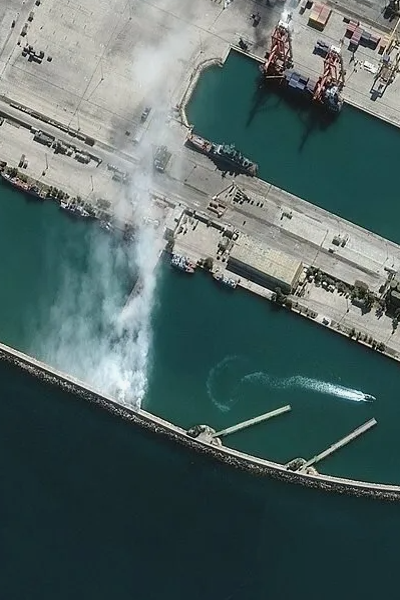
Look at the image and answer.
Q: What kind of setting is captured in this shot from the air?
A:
port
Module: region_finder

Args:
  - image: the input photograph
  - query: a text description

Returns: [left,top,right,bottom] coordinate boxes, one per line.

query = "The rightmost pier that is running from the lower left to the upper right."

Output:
[299,420,378,469]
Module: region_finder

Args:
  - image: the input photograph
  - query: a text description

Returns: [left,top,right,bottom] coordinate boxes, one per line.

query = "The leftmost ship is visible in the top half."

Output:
[0,174,47,202]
